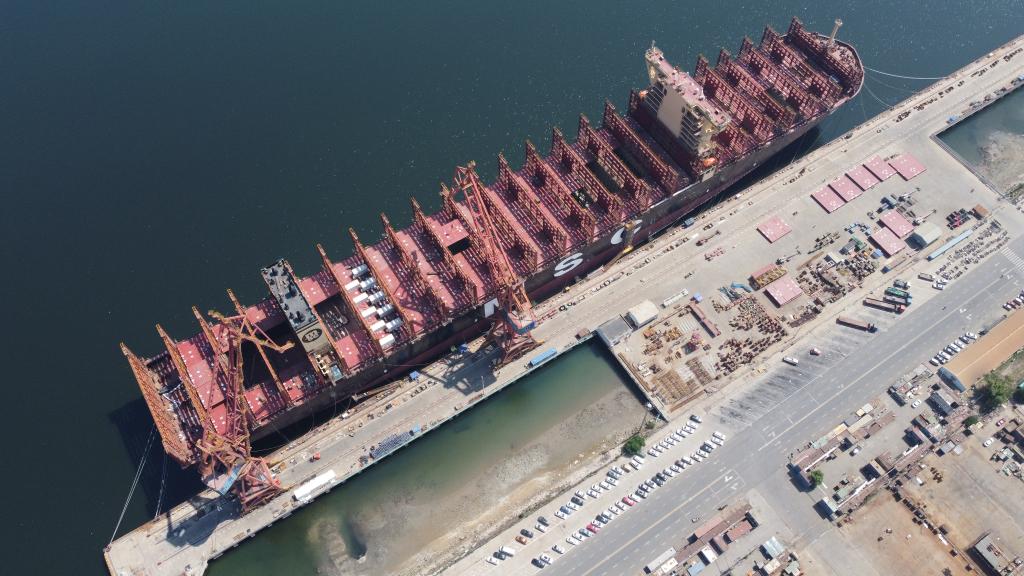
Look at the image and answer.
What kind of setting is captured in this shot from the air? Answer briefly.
port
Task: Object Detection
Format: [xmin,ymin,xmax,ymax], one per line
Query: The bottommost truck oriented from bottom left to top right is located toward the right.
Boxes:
[636,546,679,576]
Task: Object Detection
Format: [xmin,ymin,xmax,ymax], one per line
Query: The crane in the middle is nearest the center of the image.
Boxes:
[438,162,543,367]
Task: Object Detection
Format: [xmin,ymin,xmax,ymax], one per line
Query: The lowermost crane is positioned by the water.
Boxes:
[191,306,304,519]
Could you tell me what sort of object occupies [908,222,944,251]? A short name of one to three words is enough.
shed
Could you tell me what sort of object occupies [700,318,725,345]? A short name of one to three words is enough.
shipping container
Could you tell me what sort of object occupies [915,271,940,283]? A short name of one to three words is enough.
vehicle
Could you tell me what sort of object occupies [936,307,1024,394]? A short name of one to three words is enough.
hangar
